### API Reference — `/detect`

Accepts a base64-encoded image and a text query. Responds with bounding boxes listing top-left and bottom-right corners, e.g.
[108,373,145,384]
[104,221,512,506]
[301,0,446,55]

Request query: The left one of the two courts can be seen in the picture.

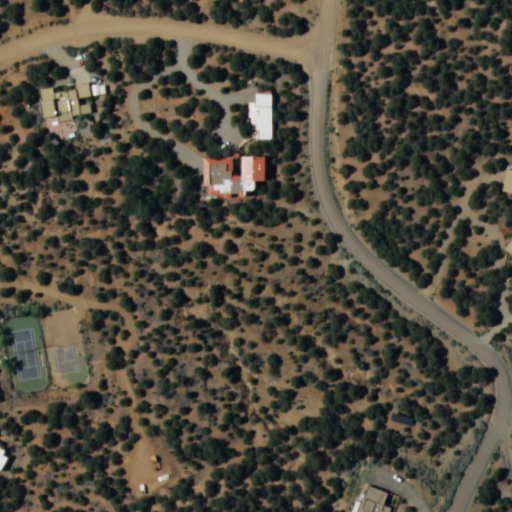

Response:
[5,318,50,392]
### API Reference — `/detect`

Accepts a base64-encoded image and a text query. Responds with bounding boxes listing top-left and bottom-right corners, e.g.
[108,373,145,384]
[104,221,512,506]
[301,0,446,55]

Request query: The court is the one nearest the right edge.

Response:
[43,310,88,386]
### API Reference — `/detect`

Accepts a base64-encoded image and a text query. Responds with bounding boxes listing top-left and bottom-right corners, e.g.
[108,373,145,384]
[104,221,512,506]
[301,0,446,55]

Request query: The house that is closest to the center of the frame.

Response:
[204,154,266,198]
